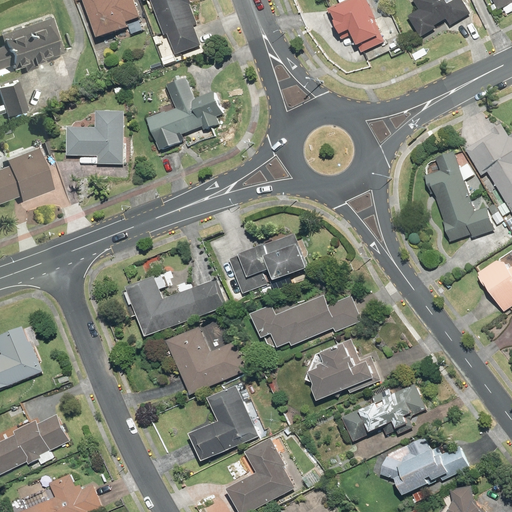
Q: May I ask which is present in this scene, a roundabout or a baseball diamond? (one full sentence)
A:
Looking from above, you can make out a roundabout.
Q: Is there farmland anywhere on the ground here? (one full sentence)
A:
No, farmland can't be seen anywhere here.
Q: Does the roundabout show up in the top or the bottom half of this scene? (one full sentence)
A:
The top half of the photo is where the roundabout is.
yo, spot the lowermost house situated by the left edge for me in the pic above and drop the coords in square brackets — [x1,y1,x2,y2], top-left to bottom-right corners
[25,475,104,512]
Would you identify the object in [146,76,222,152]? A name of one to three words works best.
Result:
house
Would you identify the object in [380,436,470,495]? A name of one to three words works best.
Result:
house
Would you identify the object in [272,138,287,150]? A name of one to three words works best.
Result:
vehicle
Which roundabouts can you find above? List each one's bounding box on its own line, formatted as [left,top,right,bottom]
[272,93,386,208]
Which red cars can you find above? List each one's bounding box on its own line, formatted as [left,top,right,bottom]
[164,158,172,172]
[255,0,264,12]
